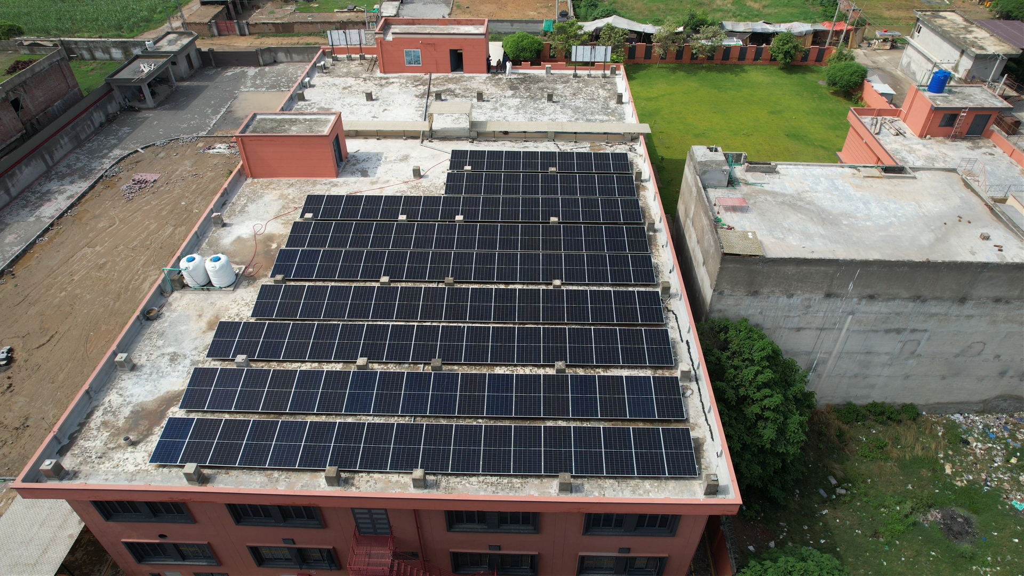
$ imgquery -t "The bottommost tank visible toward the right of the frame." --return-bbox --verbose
[683,145,729,188]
